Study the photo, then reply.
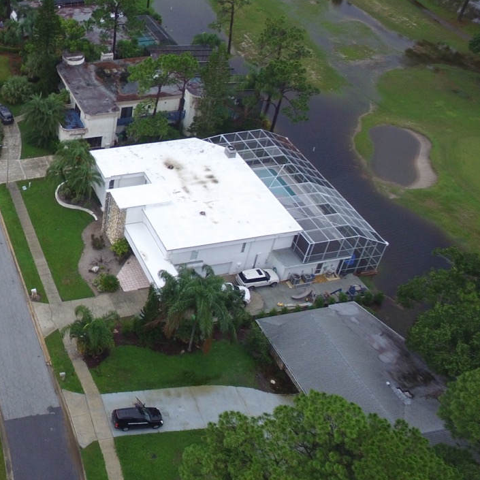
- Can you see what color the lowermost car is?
black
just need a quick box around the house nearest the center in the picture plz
[92,138,341,294]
